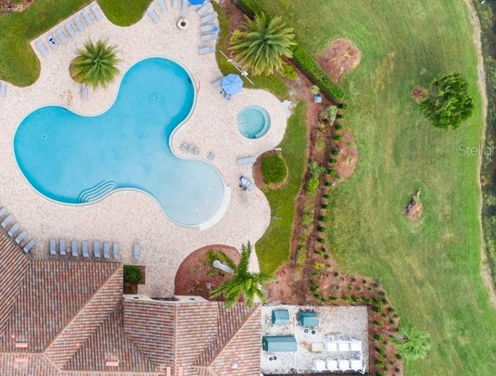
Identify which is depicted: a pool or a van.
pool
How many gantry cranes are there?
0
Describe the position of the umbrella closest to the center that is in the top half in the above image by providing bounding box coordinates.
[219,75,241,96]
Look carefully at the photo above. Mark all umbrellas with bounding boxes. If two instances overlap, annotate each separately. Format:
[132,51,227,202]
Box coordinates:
[186,0,206,6]
[219,75,241,96]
